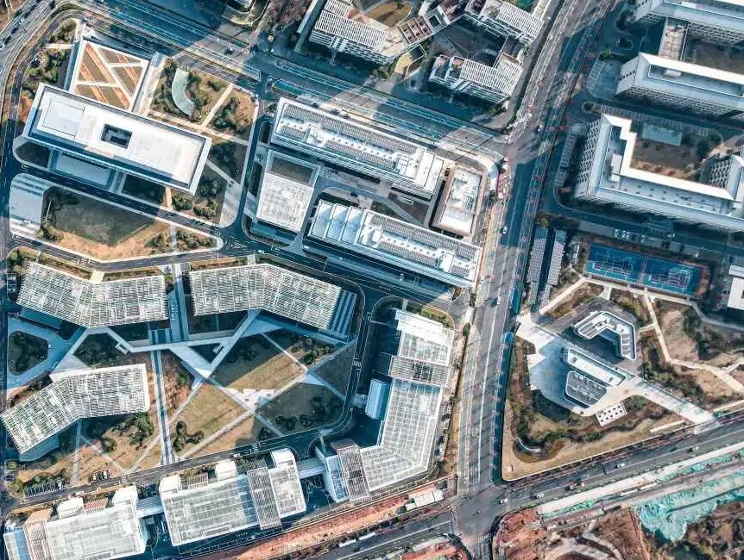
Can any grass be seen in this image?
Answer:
Yes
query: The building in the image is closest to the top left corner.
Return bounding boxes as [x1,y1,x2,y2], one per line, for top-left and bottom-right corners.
[69,40,149,113]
